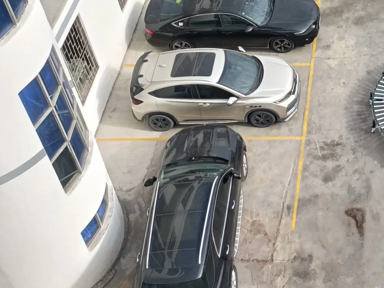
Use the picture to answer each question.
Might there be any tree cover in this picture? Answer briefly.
No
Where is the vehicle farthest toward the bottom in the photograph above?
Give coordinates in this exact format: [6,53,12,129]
[132,125,249,288]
